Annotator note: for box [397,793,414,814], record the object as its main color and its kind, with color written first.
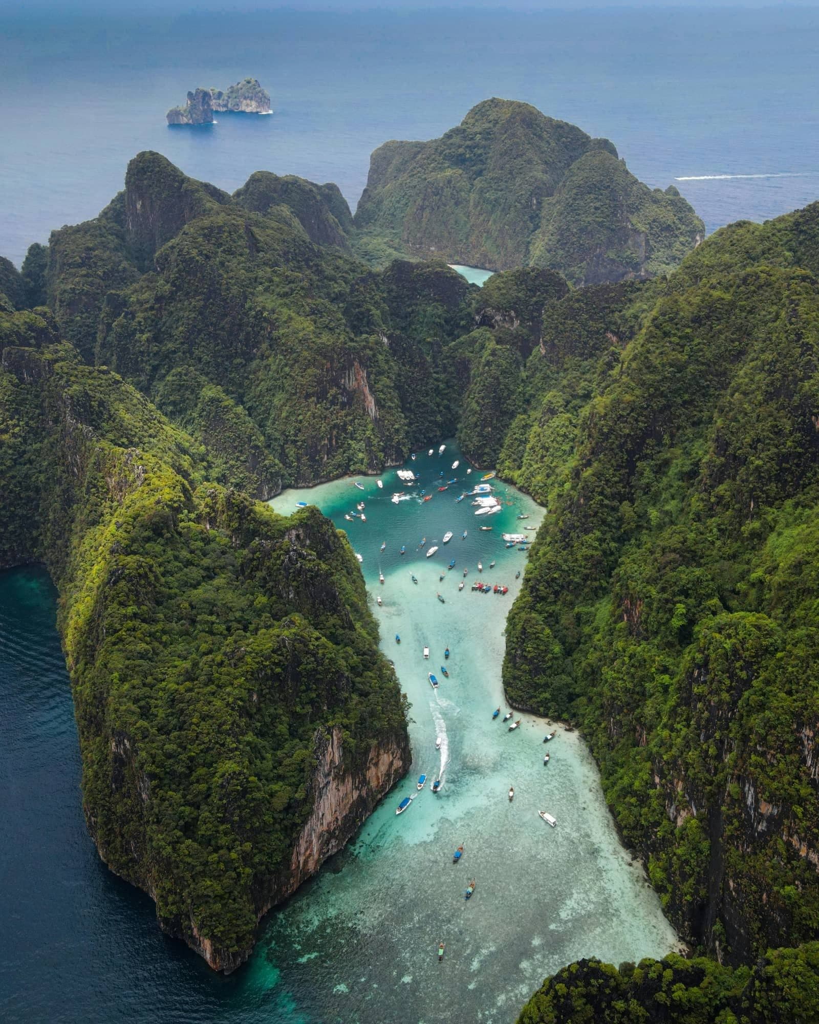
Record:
blue boat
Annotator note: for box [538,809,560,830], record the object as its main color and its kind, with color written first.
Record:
white boat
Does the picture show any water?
Yes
